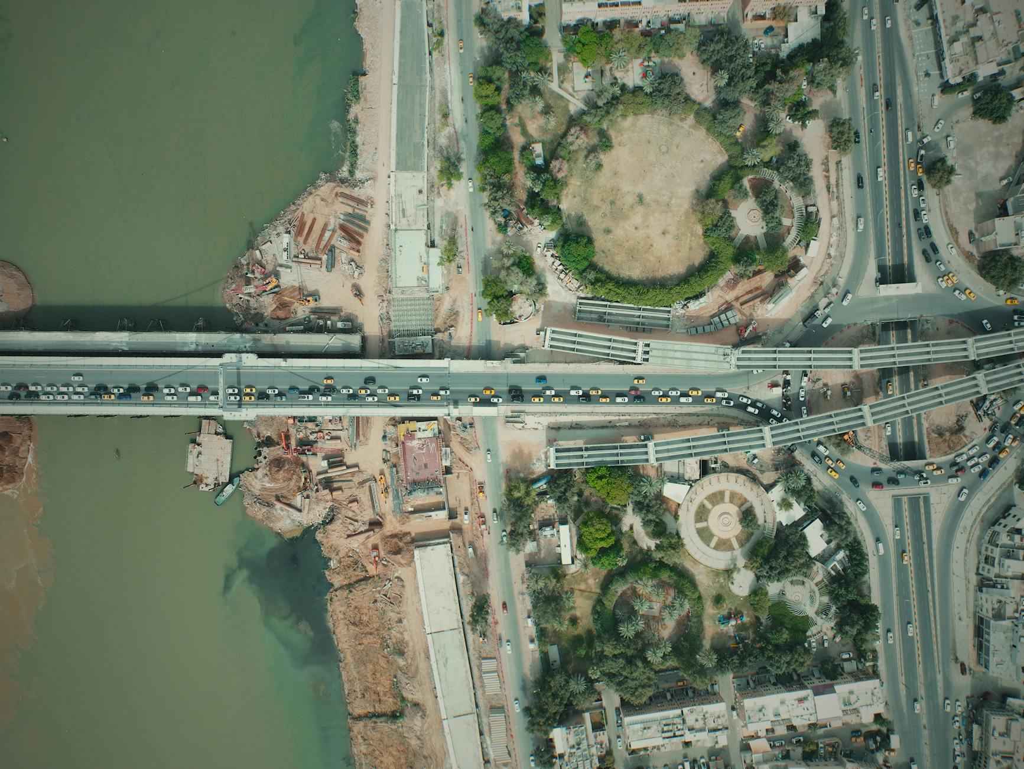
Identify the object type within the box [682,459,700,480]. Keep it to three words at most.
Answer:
building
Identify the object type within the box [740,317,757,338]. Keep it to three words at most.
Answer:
vehicle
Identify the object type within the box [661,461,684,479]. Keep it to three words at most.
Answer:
shed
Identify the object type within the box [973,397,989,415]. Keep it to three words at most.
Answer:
work vehicle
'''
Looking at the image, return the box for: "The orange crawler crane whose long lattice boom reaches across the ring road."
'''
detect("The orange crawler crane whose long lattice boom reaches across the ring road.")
[840,429,930,484]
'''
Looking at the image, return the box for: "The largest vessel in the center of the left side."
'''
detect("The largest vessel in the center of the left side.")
[183,419,234,490]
